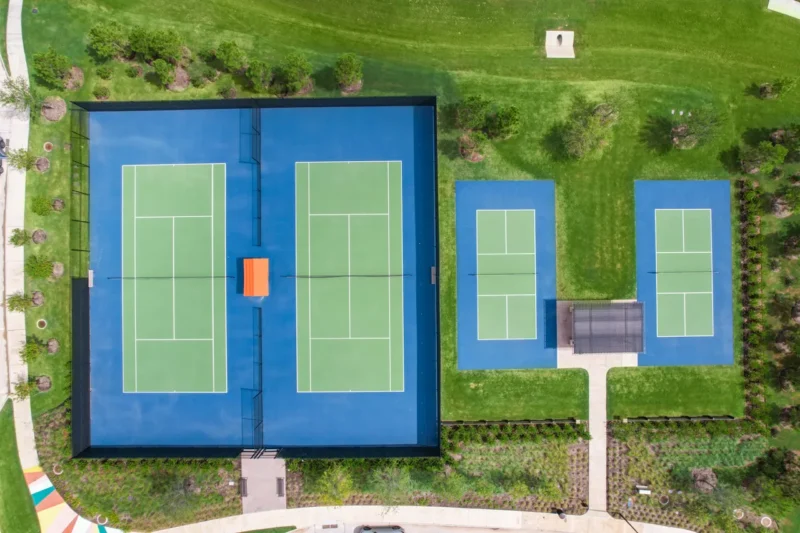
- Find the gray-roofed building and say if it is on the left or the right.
right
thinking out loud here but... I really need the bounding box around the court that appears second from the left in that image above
[260,106,438,449]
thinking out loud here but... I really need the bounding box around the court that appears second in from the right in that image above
[455,180,557,370]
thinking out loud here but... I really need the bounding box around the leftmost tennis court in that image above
[88,107,262,449]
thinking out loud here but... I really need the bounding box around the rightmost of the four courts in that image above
[635,180,734,366]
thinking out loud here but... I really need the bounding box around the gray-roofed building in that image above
[569,302,645,355]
